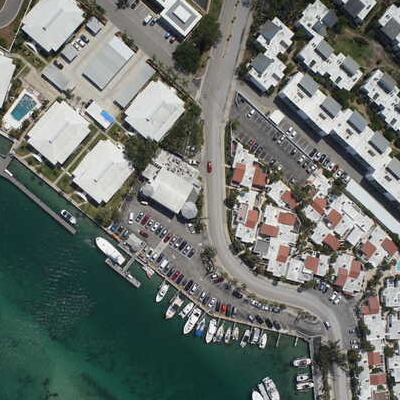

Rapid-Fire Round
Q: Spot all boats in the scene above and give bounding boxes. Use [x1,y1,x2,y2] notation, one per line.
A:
[234,327,240,342]
[293,358,314,367]
[196,319,206,338]
[215,323,225,344]
[297,375,312,382]
[263,376,280,400]
[142,265,151,277]
[157,282,170,301]
[180,303,193,319]
[252,327,261,345]
[96,237,126,267]
[166,293,184,319]
[241,329,251,349]
[260,333,268,351]
[62,211,77,223]
[207,317,218,344]
[225,327,232,345]
[297,382,316,389]
[185,307,203,335]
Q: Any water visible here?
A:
Yes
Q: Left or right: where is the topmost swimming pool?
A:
left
